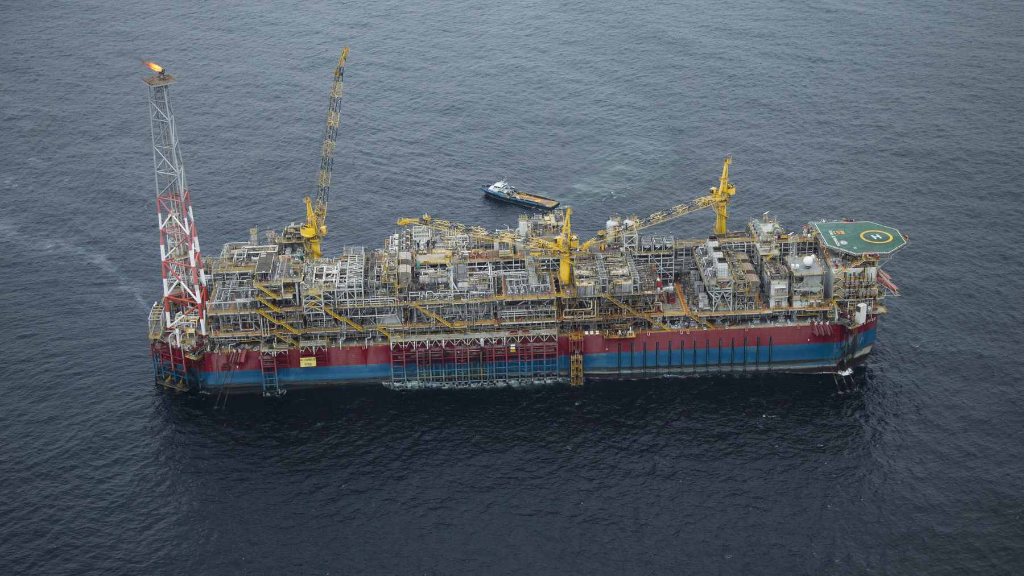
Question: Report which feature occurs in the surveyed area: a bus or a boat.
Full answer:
There is a boat in the scene.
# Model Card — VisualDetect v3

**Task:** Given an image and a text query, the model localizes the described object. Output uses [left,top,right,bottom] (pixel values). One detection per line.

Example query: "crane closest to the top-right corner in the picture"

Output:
[581,153,738,248]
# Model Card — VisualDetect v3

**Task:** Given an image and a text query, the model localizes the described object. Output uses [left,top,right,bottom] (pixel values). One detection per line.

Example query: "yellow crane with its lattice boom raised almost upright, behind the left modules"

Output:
[297,44,347,260]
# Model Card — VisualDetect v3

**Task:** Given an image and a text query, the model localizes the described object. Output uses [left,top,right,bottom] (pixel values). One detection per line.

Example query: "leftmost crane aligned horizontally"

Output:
[393,203,581,289]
